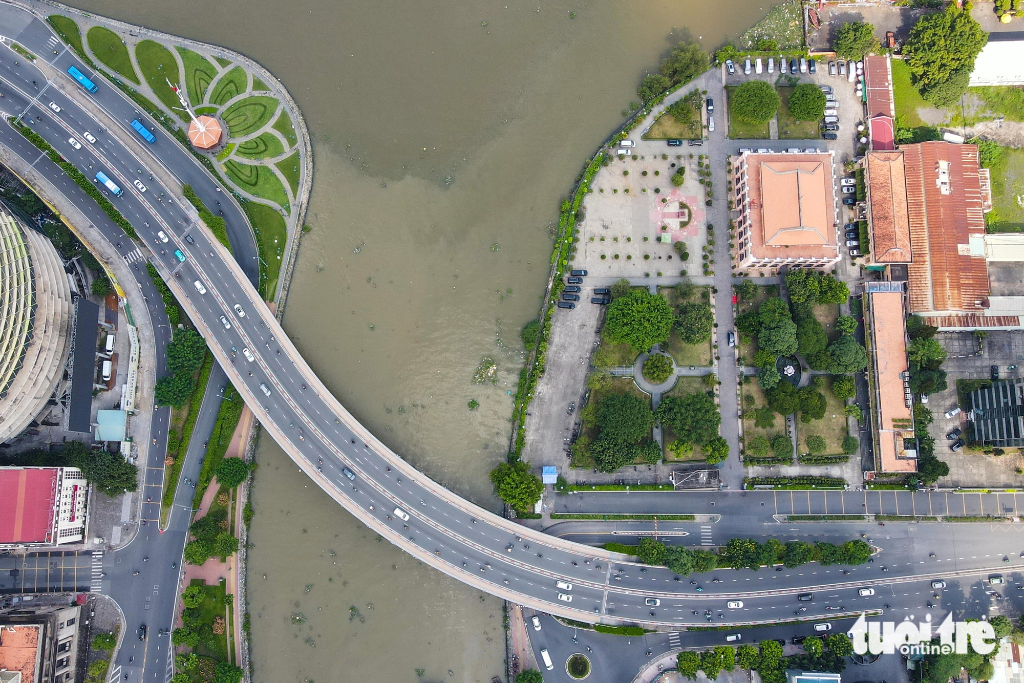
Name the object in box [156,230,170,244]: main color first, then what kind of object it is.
white car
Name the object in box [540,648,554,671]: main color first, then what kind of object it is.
white vehicle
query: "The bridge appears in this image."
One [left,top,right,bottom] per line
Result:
[146,218,614,629]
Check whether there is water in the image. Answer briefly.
Yes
